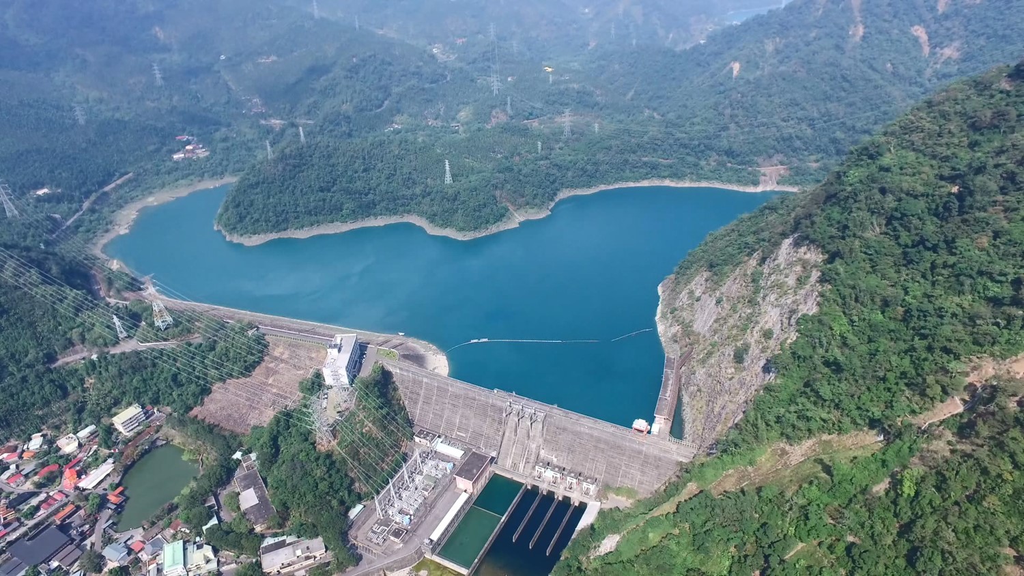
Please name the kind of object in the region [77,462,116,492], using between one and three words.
building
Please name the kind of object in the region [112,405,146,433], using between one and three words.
building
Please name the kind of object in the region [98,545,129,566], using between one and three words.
house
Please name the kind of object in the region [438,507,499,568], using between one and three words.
swimming pool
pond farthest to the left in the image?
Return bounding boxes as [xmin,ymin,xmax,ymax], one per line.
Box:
[116,444,200,533]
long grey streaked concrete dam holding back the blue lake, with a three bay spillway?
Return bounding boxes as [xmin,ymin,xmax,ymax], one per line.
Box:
[382,353,689,496]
